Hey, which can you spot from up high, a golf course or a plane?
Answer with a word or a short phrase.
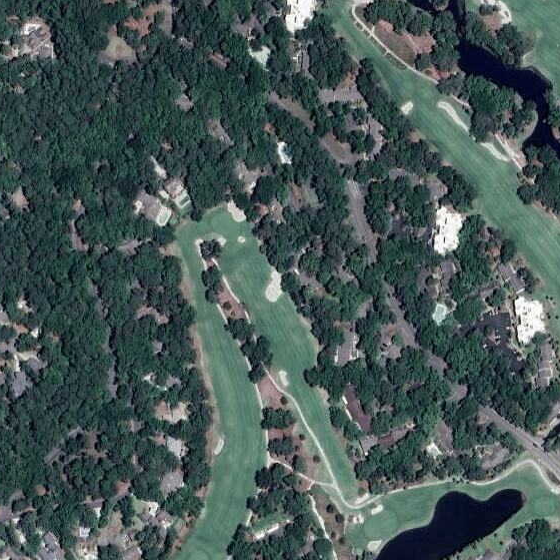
golf course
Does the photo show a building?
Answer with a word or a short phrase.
Yes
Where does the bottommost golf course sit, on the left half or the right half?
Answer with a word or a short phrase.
right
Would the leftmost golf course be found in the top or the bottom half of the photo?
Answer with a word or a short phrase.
bottom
